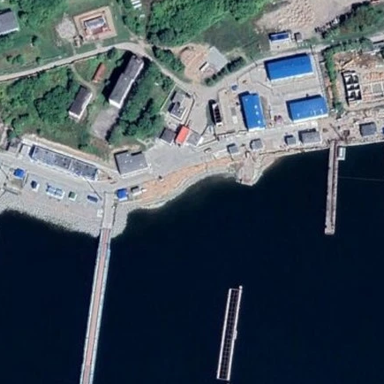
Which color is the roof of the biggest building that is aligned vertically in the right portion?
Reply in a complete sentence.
The roof of the biggest building that is aligned vertically in the right portion is blue.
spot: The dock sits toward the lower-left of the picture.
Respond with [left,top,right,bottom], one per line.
[80,230,110,384]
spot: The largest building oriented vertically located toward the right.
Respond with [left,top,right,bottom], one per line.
[242,92,265,131]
